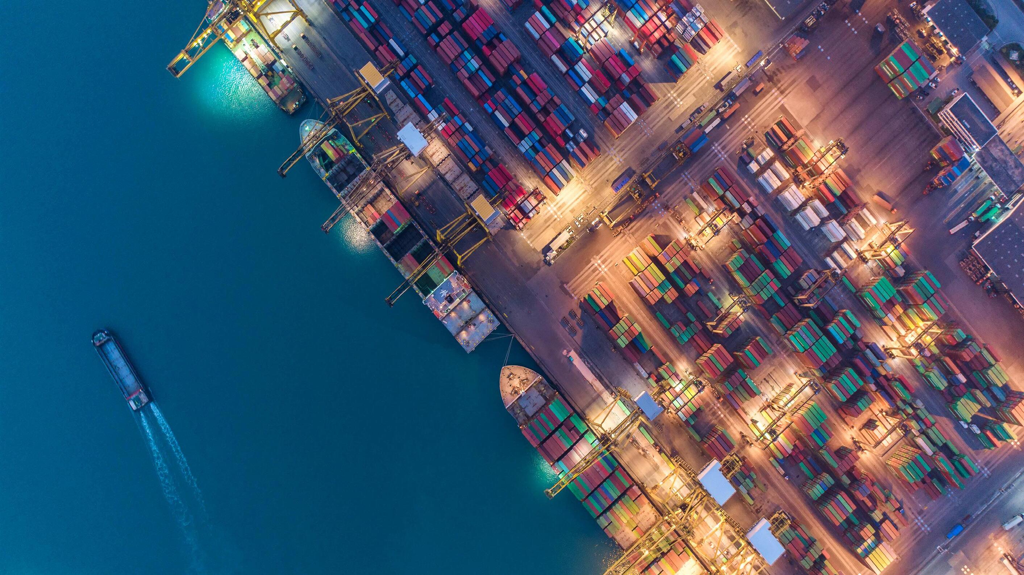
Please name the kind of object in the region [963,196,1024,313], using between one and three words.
building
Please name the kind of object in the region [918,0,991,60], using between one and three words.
building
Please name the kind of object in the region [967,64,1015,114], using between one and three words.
shed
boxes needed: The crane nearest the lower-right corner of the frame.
[854,411,912,457]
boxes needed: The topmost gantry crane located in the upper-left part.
[165,0,302,81]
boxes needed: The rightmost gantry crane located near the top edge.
[629,7,675,55]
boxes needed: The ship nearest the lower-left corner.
[94,328,152,411]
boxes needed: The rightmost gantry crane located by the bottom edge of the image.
[689,501,791,575]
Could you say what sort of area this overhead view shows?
port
